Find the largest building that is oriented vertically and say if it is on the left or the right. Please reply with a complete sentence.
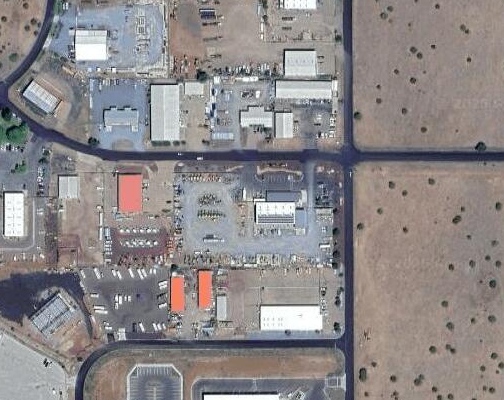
It is on the left.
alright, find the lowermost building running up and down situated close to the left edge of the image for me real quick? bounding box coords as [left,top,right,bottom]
[4,192,23,236]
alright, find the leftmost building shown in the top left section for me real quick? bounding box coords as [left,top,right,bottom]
[22,79,61,114]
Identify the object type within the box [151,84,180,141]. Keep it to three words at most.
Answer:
building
